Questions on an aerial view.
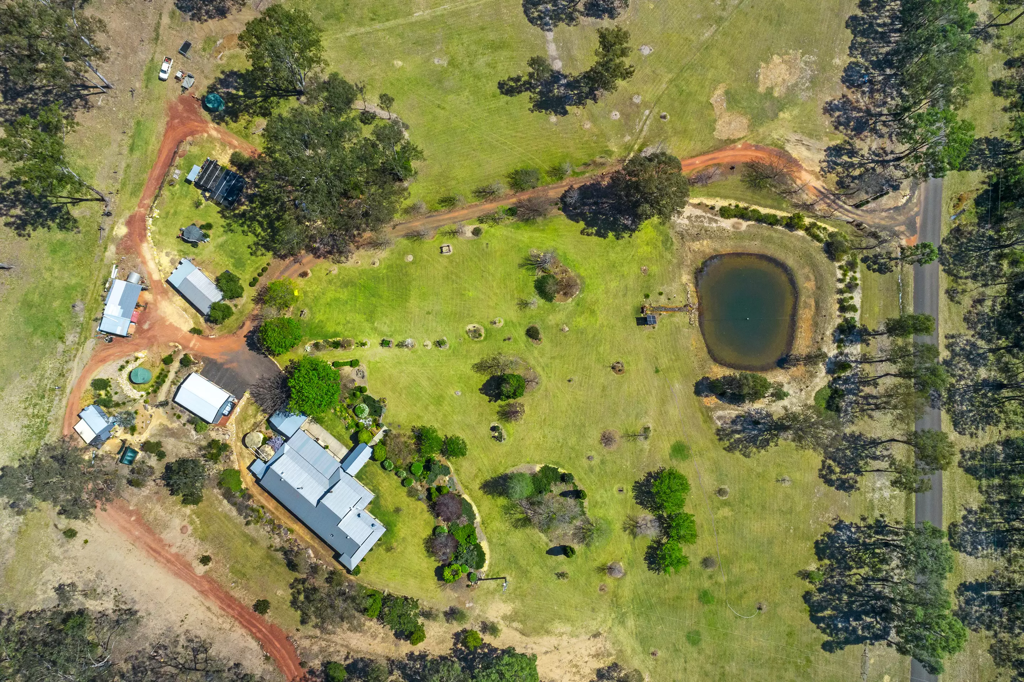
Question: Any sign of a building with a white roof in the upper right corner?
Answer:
No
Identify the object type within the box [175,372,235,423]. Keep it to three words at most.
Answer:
building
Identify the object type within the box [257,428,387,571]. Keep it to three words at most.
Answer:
house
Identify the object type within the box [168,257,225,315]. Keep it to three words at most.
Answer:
shed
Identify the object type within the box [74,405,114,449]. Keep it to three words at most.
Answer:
house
